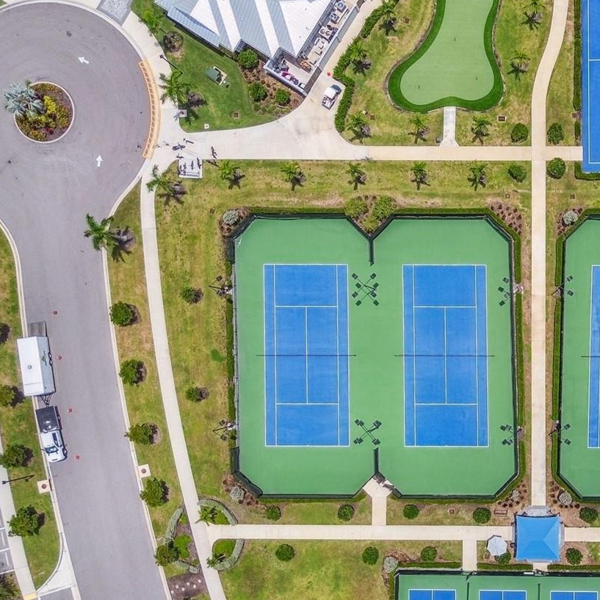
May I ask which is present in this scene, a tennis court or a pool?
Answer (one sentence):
Of the two, only a tennis court appears.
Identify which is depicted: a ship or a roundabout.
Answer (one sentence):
There is a roundabout in the scene.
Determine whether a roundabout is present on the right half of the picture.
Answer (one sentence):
No, no roundabout appears on the right half of the picture.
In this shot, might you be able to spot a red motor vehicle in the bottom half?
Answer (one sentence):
No, there's no red motor vehicle to be seen in the bottom half.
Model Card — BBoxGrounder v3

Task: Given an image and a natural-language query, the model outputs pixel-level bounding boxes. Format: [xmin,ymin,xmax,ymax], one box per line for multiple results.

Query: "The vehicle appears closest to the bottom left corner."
[37,408,65,462]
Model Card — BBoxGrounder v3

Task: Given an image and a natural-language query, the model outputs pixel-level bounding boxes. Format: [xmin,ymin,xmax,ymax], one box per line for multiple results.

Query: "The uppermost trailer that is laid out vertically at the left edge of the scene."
[16,322,52,404]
